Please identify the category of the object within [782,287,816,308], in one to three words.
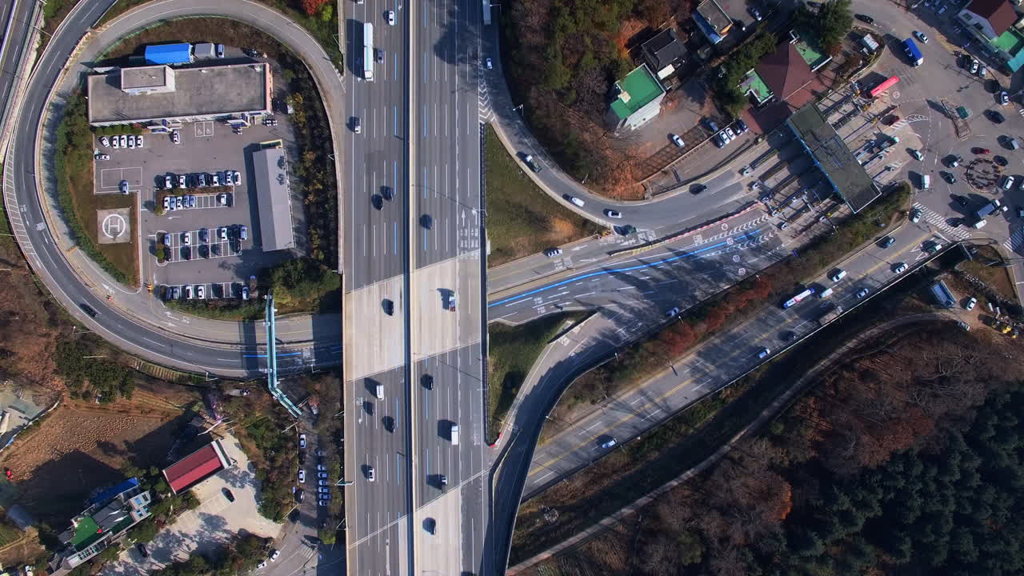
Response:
bus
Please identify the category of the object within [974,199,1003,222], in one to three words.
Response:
truck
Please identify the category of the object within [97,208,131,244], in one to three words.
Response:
helipad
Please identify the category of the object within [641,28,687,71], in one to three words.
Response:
house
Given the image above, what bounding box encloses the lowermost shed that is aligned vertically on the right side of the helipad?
[253,140,299,251]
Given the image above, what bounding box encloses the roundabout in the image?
[967,158,1001,192]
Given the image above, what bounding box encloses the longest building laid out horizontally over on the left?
[88,63,278,135]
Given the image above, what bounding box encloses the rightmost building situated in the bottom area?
[162,437,238,494]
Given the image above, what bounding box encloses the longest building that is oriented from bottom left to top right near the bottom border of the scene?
[53,477,157,567]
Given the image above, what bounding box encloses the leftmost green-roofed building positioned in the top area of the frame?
[608,64,665,126]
